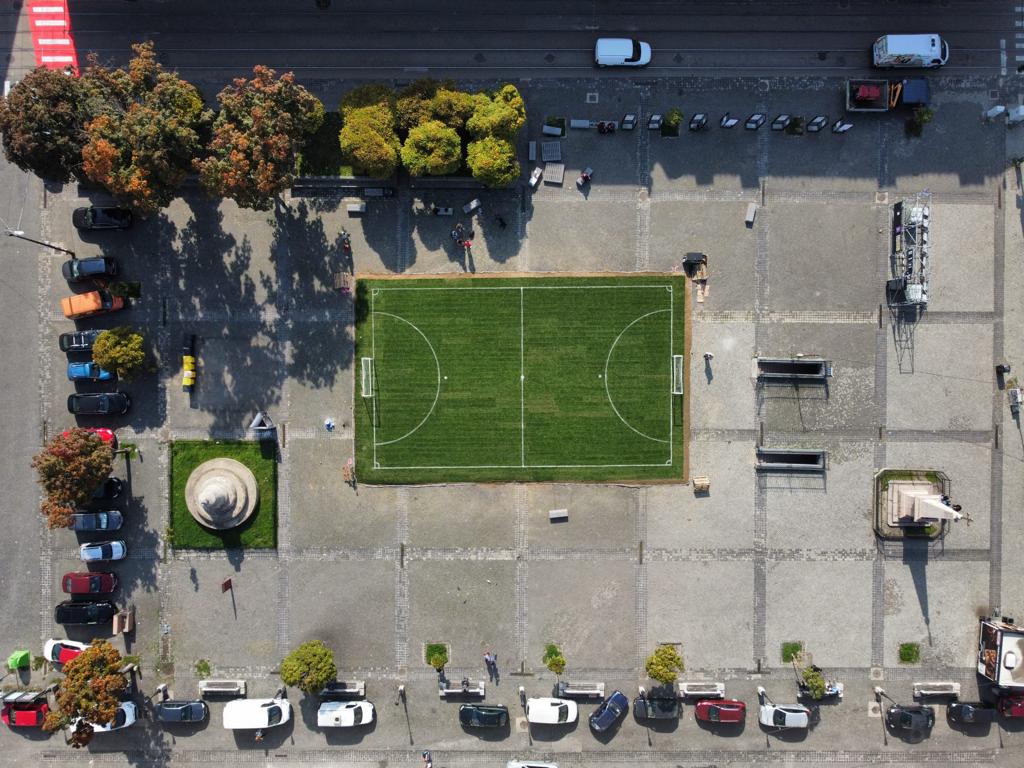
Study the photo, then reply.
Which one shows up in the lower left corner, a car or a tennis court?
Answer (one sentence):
The feature located in the lower left corner is a car.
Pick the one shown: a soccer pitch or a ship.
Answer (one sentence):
Visible in the photo is a soccer pitch.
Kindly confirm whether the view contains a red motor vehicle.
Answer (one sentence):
Yes, looking at the shot, I can spot a red motor vehicle.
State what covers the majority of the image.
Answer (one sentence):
The scene is dominated by paved ground.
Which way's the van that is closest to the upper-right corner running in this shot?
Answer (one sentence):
I'd say the van that is closest to the upper-right corner is aligned from left to right in the picture.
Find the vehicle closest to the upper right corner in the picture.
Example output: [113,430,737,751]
[869,32,943,69]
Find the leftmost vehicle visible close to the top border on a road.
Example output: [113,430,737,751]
[594,38,649,69]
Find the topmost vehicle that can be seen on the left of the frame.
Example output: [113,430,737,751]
[75,204,133,231]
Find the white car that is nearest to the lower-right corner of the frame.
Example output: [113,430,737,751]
[756,700,811,728]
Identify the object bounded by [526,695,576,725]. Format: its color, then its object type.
white car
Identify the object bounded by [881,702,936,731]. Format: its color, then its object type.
black car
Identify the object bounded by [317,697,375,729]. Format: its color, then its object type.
white van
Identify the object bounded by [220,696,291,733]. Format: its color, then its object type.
white van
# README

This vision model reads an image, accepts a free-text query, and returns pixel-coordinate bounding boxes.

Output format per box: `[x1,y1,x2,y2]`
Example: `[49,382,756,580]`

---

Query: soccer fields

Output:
[355,272,691,486]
